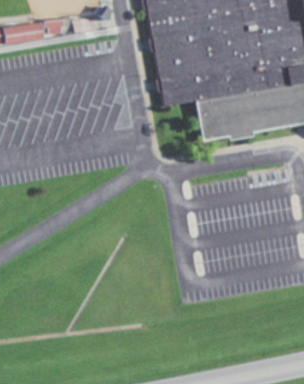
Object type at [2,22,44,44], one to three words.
building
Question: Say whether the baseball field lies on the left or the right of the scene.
left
